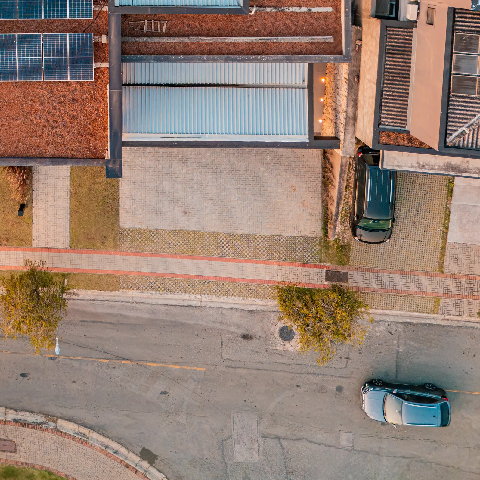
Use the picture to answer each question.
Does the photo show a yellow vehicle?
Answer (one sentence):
No, I can see no yellow vehicle in this picture.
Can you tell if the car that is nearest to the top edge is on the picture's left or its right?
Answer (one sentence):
It is on the right.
